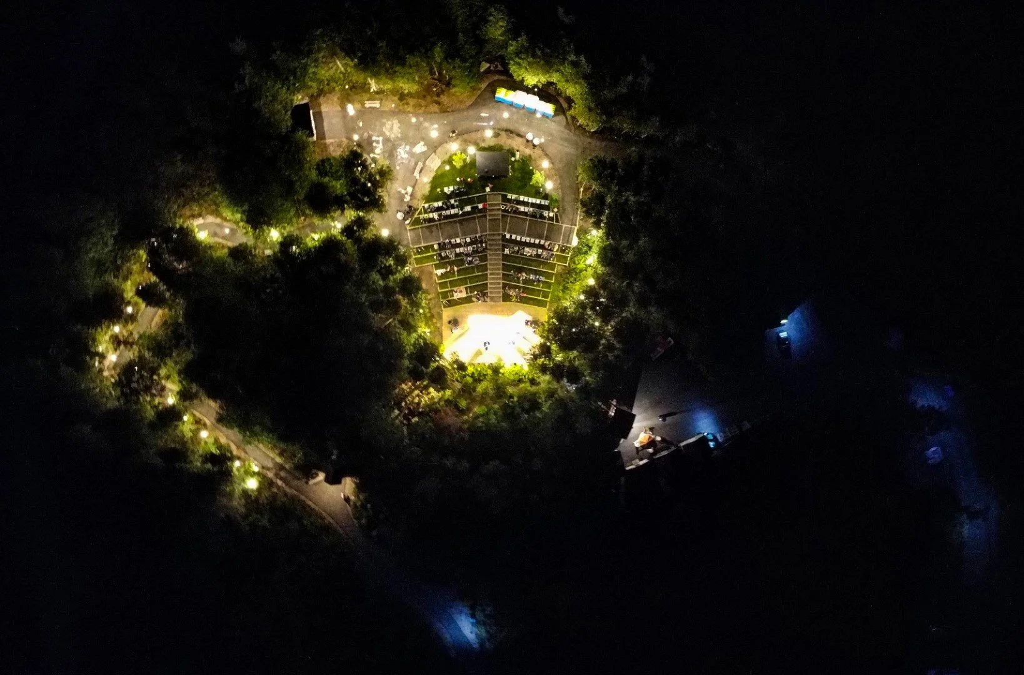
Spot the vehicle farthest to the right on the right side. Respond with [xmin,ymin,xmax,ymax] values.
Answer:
[774,328,791,358]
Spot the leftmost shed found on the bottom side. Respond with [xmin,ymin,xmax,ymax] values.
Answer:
[320,460,357,485]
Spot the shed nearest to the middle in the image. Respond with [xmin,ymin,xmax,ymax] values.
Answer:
[595,403,636,445]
